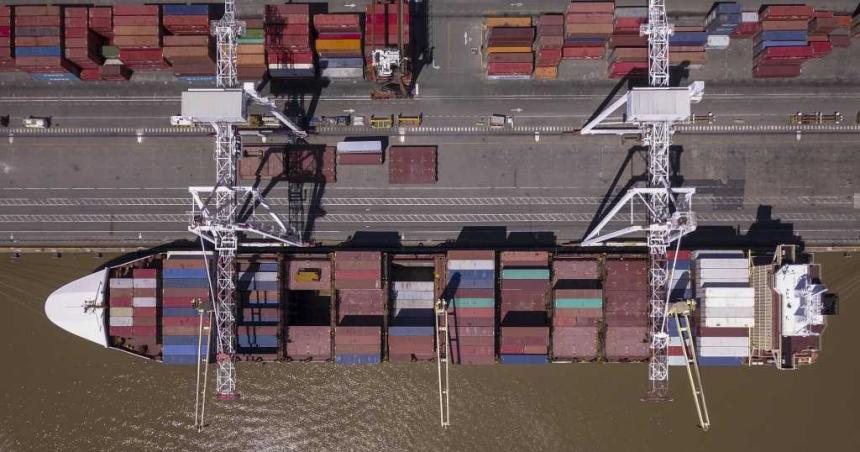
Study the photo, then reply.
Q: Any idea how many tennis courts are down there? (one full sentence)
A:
There are no tennis courts in the image.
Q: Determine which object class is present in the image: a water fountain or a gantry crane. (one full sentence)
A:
Looking from above, you can make out a gantry crane.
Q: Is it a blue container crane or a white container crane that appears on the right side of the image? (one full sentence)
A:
Visible on the right side of the image is a white container crane.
